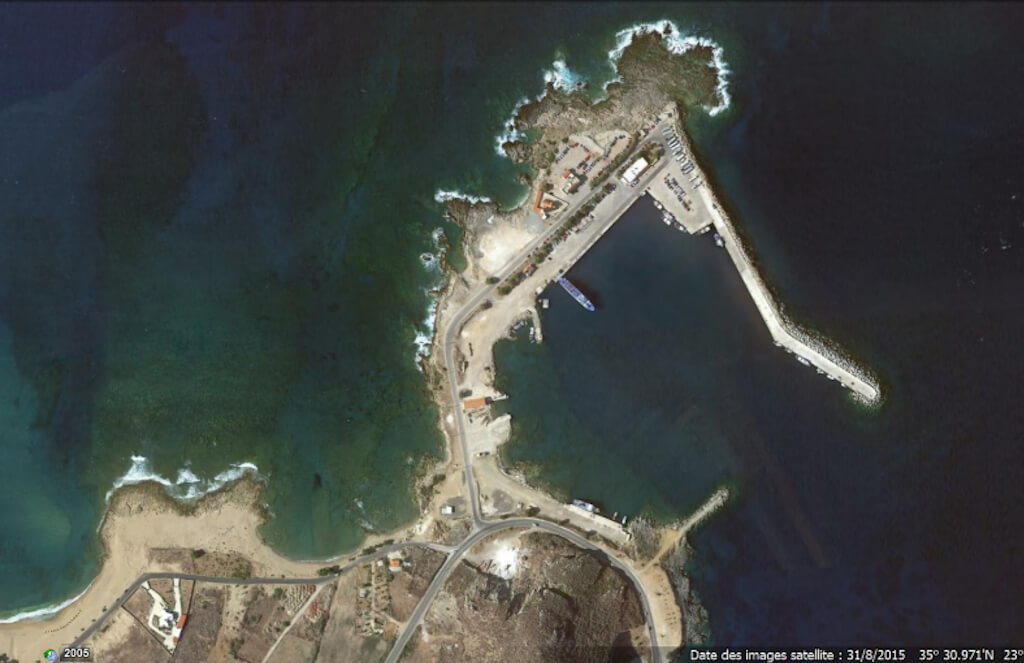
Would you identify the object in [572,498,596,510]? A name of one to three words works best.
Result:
vessel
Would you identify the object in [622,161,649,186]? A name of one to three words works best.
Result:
building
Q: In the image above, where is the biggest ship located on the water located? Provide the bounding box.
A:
[557,276,594,309]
